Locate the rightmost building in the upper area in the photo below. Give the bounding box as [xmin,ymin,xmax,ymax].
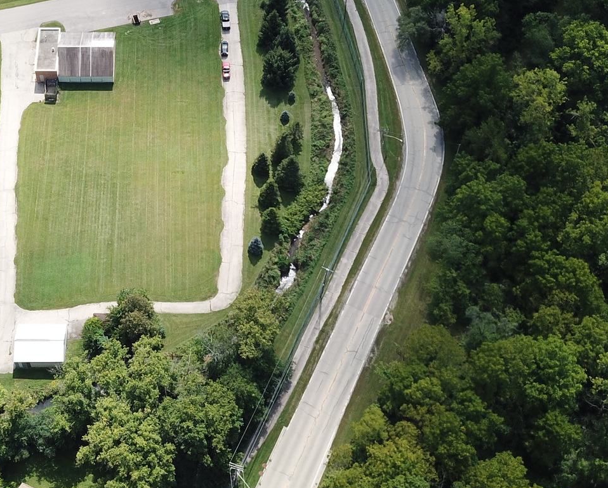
[58,32,115,82]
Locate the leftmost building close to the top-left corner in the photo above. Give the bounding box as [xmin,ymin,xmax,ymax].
[30,27,62,89]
